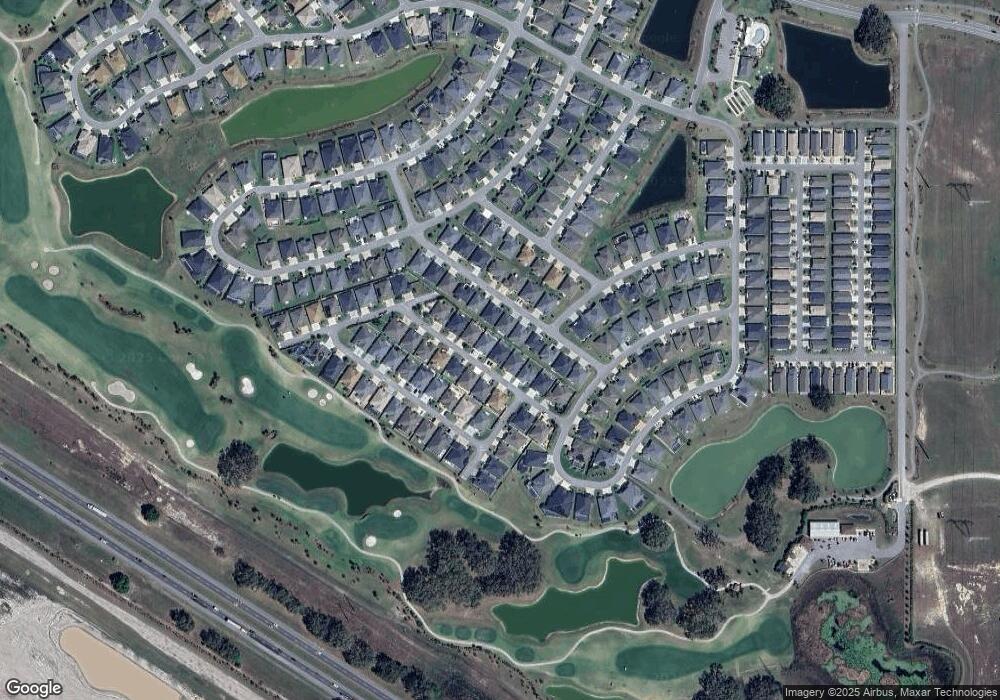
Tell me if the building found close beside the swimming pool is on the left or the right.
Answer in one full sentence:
The building found close beside the swimming pool is on the right side of the image.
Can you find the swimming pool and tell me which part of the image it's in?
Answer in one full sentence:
Look in the top right portion of the view to spot the swimming pool.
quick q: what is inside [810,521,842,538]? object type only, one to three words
barn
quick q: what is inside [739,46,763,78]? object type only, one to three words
building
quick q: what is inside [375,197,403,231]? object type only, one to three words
house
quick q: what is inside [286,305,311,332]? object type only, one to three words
house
